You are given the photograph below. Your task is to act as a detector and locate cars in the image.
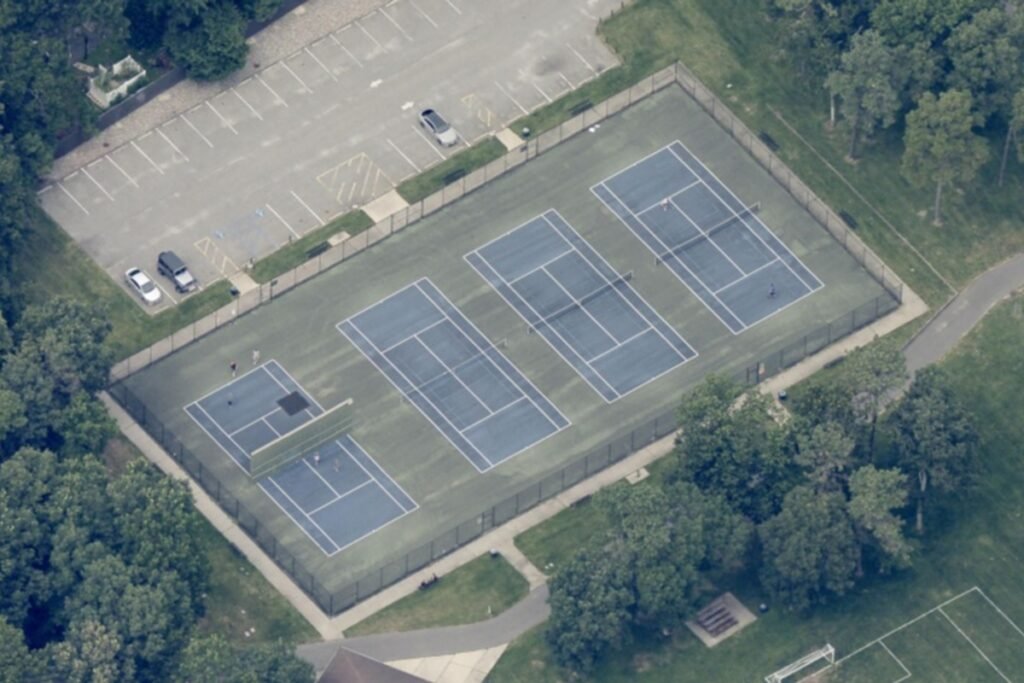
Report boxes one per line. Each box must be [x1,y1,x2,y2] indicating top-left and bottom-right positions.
[154,248,194,288]
[123,266,162,302]
[419,106,458,145]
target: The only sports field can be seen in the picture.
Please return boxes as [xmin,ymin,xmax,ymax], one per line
[803,584,1024,683]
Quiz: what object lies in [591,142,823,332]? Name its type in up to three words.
tennis court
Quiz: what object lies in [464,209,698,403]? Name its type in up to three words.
tennis court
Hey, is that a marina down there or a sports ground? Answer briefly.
sports ground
